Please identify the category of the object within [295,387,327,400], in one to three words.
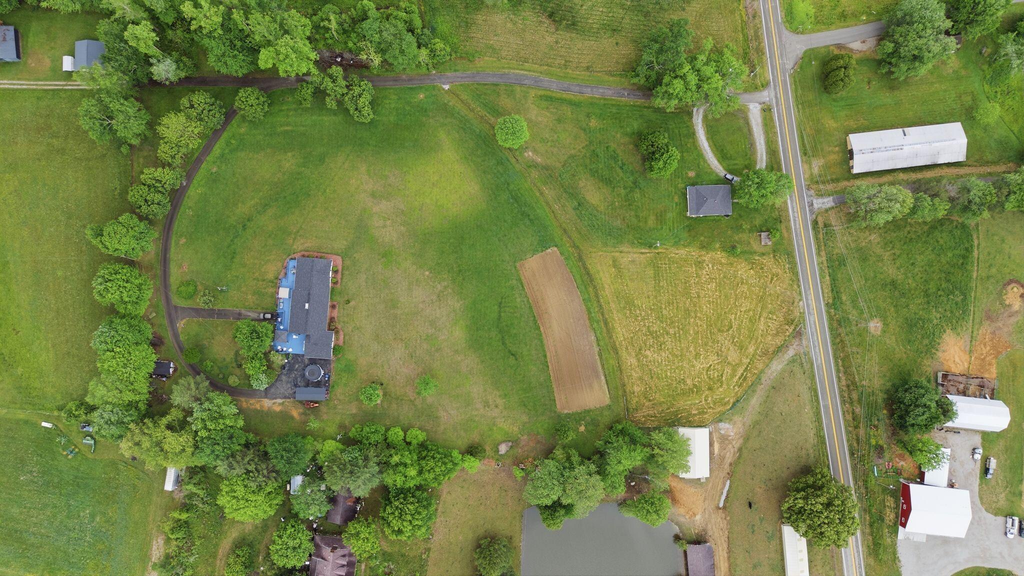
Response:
shed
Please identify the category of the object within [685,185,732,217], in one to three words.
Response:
house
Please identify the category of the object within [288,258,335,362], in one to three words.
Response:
house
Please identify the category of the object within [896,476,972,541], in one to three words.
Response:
barn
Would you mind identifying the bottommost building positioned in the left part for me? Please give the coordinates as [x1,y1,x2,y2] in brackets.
[312,534,355,576]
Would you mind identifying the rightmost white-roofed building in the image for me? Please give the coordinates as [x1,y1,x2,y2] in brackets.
[942,395,1011,432]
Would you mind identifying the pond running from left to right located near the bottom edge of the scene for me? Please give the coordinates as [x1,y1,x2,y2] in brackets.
[520,501,687,576]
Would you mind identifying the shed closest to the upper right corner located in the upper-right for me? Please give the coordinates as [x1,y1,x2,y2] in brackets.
[845,122,967,174]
